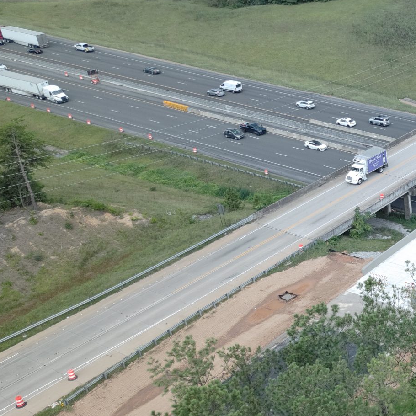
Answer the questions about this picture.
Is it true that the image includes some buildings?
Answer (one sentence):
No, there appears to be no building in this shot.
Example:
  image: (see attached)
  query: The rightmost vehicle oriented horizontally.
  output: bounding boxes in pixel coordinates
[368,114,393,127]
